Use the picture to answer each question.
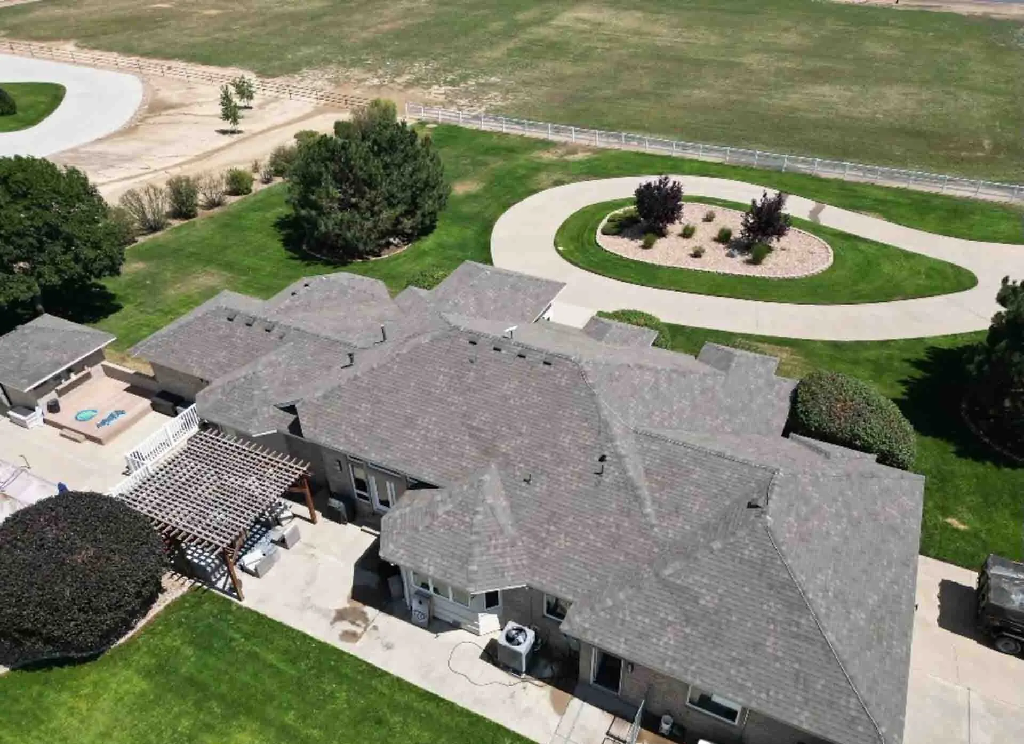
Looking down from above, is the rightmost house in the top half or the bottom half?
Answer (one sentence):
You can find the rightmost house in the bottom half.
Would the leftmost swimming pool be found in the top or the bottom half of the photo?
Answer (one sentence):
The leftmost swimming pool is in the bottom half of the image.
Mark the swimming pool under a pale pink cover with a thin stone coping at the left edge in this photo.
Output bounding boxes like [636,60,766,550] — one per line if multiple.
[0,457,67,511]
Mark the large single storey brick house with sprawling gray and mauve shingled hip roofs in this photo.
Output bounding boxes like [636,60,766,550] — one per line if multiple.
[128,260,927,744]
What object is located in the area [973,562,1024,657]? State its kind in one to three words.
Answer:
car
